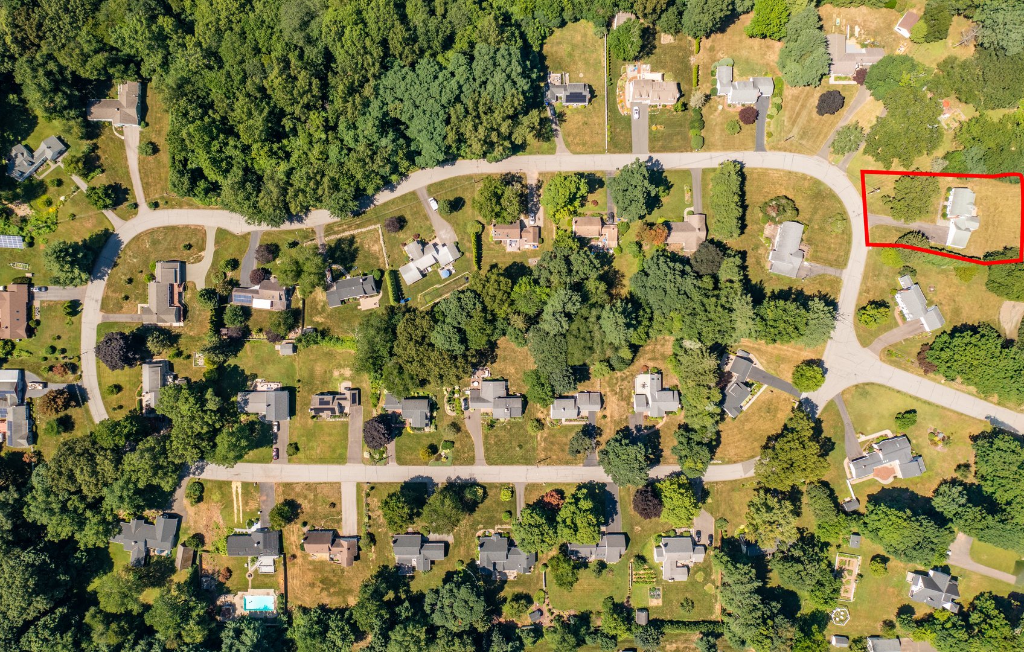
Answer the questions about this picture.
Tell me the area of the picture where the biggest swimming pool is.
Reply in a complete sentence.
You can find the biggest swimming pool in the bottom left area of the picture.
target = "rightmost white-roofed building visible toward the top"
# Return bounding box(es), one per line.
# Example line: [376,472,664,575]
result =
[943,186,982,250]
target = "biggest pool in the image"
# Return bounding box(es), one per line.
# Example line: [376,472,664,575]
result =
[236,589,278,617]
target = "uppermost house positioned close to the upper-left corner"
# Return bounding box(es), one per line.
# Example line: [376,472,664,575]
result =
[83,79,143,126]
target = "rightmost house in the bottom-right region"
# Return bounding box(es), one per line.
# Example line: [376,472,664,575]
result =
[903,562,962,614]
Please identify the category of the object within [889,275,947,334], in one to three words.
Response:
house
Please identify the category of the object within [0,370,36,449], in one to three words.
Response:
house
